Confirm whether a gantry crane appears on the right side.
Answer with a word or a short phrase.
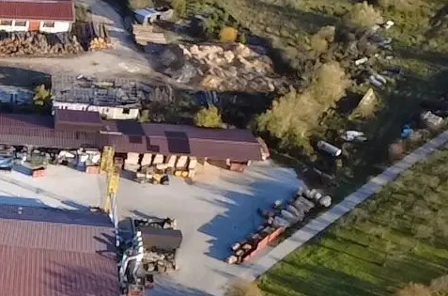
No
